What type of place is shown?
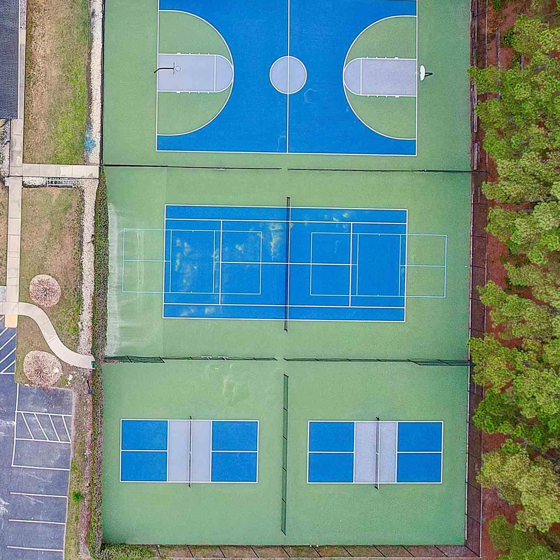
sports ground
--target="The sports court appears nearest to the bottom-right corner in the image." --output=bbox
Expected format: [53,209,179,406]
[282,361,467,547]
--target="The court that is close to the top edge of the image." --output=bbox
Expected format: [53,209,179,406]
[106,0,472,170]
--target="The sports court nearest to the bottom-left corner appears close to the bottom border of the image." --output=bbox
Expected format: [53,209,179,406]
[102,360,284,547]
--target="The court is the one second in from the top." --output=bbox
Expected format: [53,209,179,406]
[105,166,470,361]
